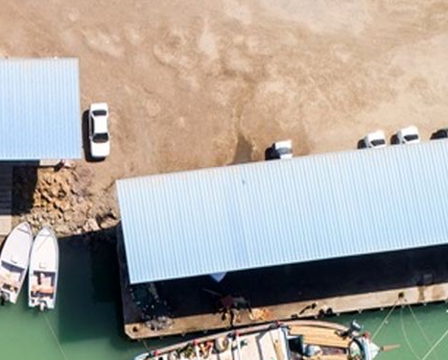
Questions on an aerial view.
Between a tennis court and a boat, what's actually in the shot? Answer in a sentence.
There is a boat in the scene.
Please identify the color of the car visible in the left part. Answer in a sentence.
The car visible in the left part is white.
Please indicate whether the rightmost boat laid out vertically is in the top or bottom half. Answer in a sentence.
The rightmost boat laid out vertically is in the bottom half of the image.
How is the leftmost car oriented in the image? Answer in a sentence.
In this picture, the leftmost car lies vertically.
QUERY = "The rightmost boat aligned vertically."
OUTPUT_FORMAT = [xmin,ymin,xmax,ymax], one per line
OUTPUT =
[29,226,59,312]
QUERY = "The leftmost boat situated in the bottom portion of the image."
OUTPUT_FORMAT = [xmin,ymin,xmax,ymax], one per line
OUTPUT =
[0,222,33,304]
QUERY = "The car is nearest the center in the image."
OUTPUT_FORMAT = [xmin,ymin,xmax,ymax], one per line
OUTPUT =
[270,135,295,160]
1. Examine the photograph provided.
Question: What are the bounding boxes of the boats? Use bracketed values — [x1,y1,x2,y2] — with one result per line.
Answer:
[0,222,33,304]
[29,226,59,312]
[129,320,407,360]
